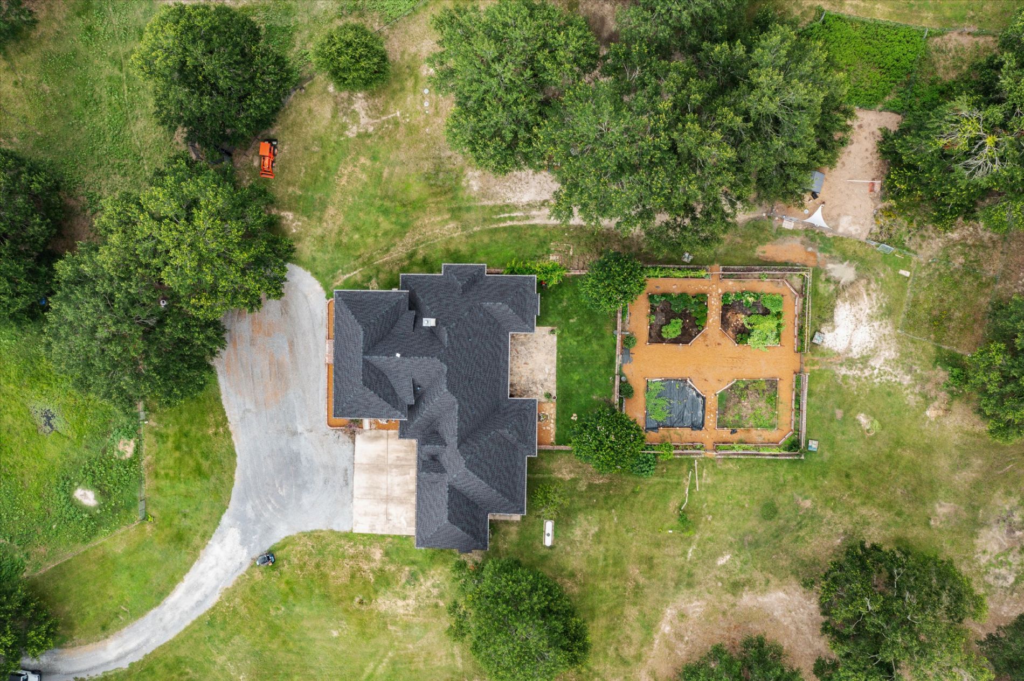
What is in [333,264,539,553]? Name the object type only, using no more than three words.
house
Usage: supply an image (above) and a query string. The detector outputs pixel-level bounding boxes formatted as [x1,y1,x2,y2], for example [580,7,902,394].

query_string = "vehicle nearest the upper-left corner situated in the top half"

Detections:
[256,134,280,179]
